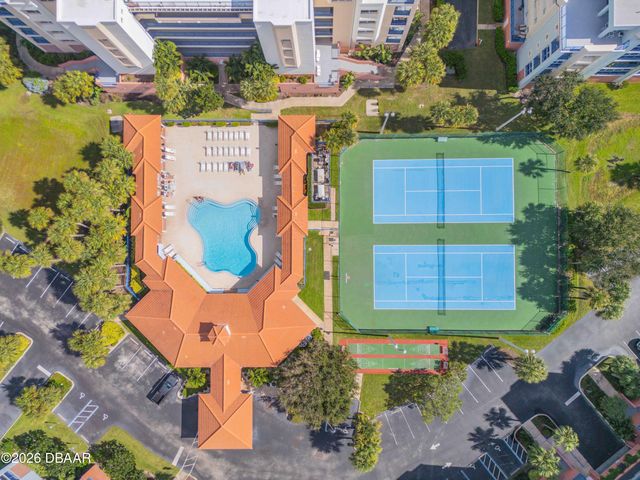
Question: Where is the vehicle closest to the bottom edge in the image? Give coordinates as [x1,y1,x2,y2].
[149,375,178,406]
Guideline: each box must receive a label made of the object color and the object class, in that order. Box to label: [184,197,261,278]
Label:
blue swimming pool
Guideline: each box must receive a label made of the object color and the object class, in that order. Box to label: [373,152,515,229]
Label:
blue tennis court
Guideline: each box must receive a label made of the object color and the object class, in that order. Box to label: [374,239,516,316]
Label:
blue tennis court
